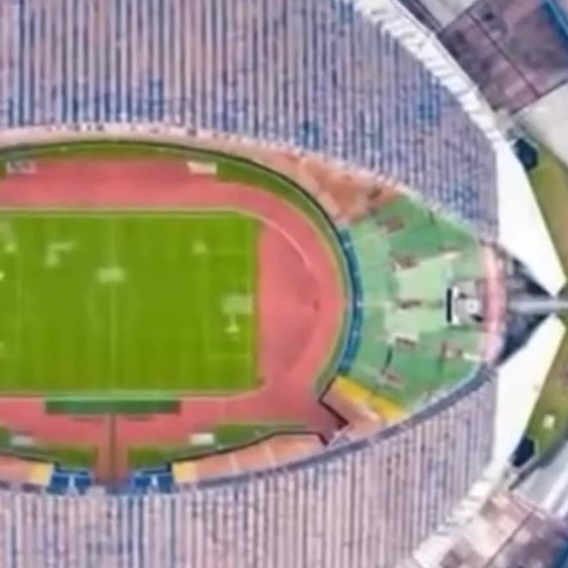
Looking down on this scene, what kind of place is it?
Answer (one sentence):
This looks like a sports ground.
